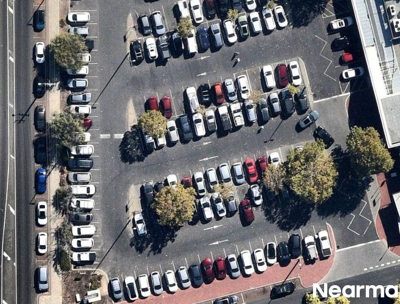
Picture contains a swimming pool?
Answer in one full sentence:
No, the photo shows no swimming pool.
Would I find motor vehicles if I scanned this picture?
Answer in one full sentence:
Yes, you can see a motor vehicle in this photo.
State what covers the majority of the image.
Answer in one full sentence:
Most of the picture is covered by paved ground.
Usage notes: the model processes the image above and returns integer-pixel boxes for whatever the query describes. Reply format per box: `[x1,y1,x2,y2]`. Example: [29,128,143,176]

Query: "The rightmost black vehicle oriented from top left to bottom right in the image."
[312,125,333,146]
